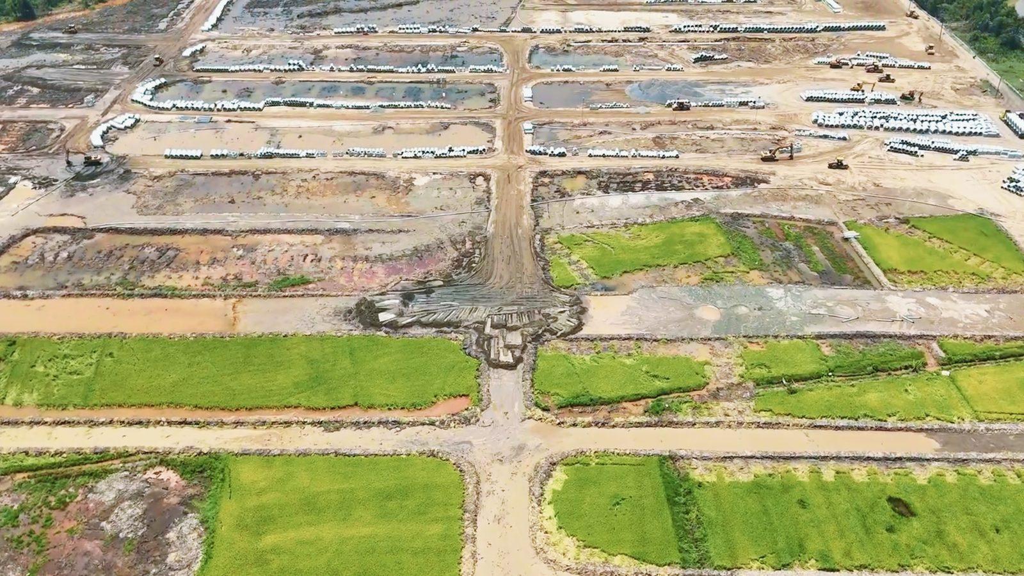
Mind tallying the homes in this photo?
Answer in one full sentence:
There are no homes in this view.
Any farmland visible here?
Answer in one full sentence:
Yes, there's farmland in this view.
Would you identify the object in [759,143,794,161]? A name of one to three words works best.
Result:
work vehicle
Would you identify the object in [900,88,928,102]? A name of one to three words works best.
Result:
work vehicle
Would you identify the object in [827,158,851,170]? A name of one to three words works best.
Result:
vehicle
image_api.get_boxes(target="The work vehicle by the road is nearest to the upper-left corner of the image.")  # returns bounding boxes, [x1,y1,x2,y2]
[57,24,77,36]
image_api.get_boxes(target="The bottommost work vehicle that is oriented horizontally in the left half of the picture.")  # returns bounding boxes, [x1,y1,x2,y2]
[64,149,103,166]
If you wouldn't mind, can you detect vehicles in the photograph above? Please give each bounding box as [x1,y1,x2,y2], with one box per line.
[900,88,928,102]
[64,149,103,166]
[829,56,855,69]
[147,56,164,67]
[878,73,898,83]
[925,44,936,55]
[907,8,921,19]
[851,79,880,93]
[866,63,885,74]
[669,97,694,112]
[759,143,794,161]
[827,158,851,170]
[57,24,77,36]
